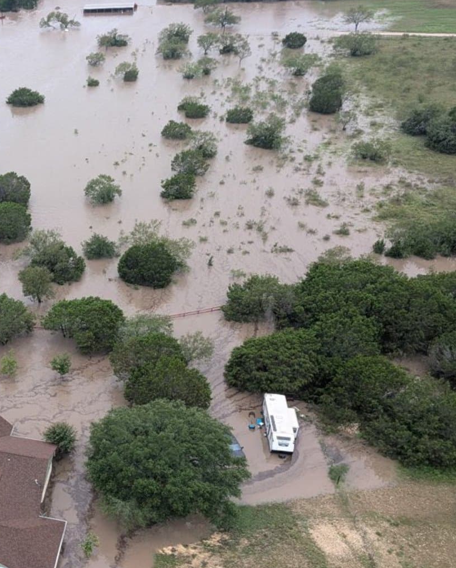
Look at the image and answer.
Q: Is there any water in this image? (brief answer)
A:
Yes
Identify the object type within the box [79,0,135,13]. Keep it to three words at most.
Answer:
barn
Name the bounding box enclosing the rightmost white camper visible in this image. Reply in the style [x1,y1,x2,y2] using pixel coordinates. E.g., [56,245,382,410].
[260,394,301,462]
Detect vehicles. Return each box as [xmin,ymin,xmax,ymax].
[260,394,301,462]
[232,431,248,464]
